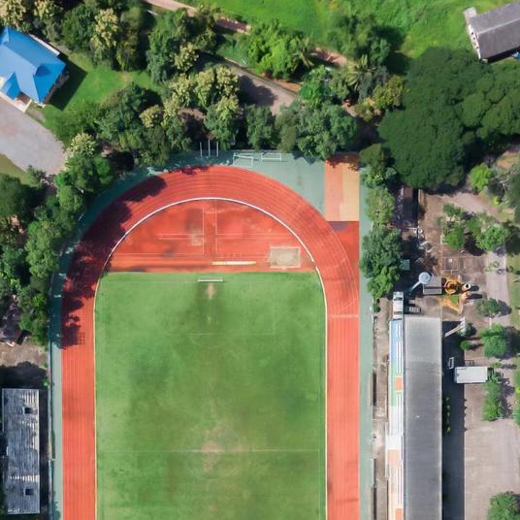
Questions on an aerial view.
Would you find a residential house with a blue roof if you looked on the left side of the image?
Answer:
Yes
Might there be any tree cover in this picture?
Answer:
Yes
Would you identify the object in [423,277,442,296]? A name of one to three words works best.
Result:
shed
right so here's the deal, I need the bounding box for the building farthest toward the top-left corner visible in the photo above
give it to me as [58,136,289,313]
[0,26,66,110]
